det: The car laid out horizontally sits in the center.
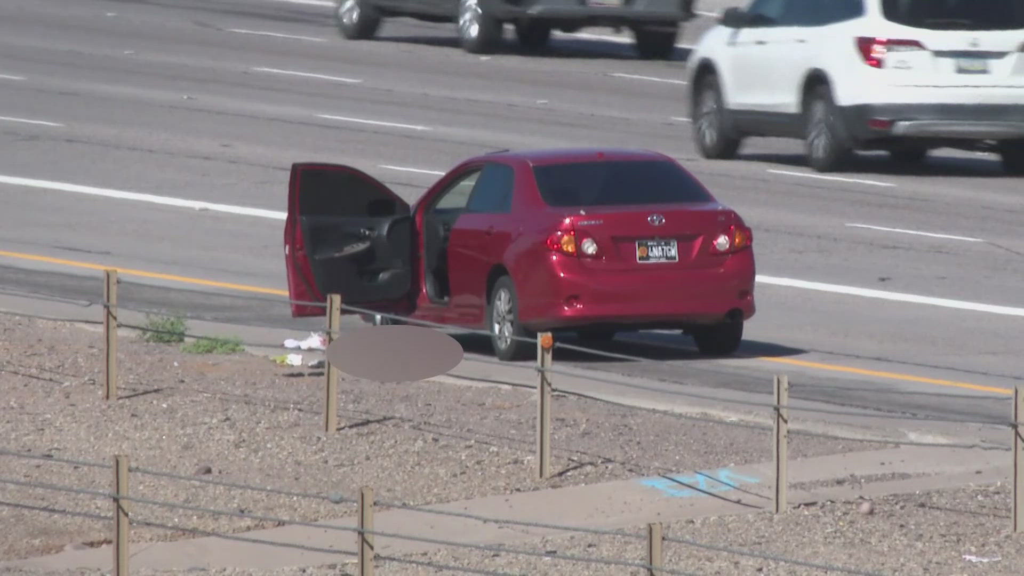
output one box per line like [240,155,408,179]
[286,148,757,361]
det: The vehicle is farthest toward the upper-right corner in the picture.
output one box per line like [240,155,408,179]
[687,0,1024,174]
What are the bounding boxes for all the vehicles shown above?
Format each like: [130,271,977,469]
[286,148,757,361]
[336,0,706,56]
[687,0,1024,174]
